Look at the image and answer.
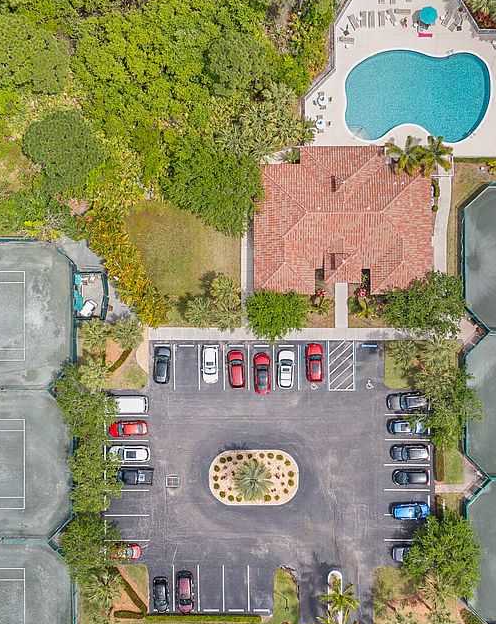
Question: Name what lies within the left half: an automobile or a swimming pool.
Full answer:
What appears within the left half is an automobile.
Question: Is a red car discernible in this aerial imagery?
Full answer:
Yes, there is a red car in the image.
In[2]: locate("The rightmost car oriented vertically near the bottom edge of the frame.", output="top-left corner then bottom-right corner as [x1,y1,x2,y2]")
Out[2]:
[175,570,194,612]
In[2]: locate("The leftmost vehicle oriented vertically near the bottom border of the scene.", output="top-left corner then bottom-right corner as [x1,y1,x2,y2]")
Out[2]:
[152,575,170,613]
